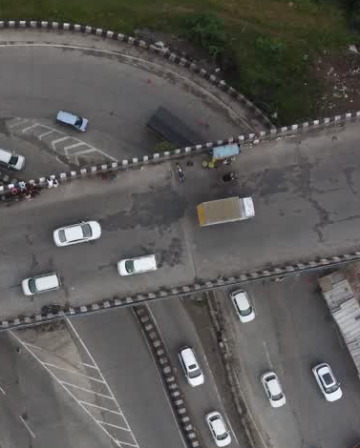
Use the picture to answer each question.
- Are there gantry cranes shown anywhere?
No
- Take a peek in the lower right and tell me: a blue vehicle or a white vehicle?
white vehicle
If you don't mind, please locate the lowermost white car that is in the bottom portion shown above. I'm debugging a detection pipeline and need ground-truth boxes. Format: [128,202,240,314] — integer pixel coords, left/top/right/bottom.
[204,409,230,447]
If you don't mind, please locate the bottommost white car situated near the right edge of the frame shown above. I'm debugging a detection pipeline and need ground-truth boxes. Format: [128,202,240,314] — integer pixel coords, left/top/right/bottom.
[309,360,342,402]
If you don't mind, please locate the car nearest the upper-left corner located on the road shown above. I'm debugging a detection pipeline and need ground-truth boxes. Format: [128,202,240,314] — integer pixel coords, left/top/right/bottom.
[54,110,88,133]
